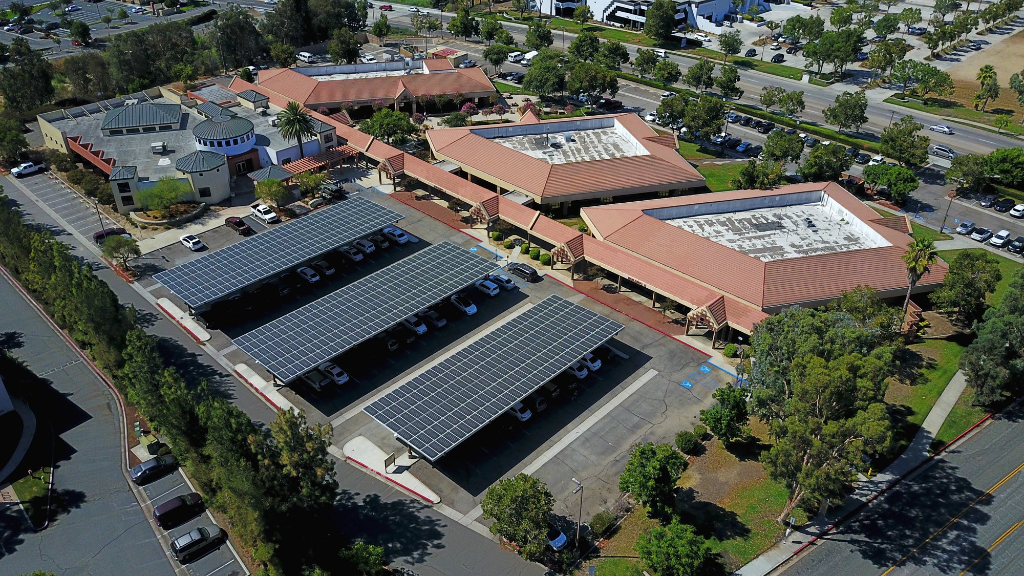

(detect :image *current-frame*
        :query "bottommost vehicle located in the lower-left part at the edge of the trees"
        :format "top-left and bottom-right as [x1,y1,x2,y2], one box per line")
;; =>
[168,529,228,565]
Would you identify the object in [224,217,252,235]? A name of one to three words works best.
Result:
vehicle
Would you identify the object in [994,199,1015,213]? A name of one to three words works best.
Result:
car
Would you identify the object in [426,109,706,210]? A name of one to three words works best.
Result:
building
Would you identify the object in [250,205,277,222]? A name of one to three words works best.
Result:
vehicle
